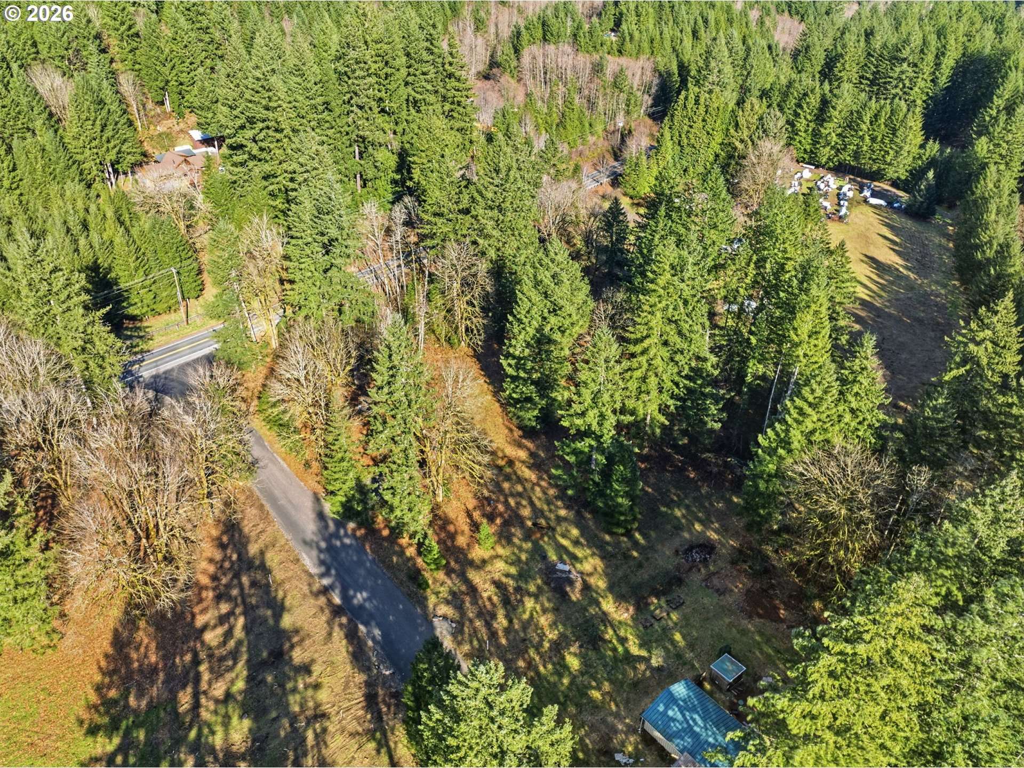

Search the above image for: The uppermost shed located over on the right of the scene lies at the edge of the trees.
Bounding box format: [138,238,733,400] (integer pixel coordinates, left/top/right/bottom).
[708,650,744,694]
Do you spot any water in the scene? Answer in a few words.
No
